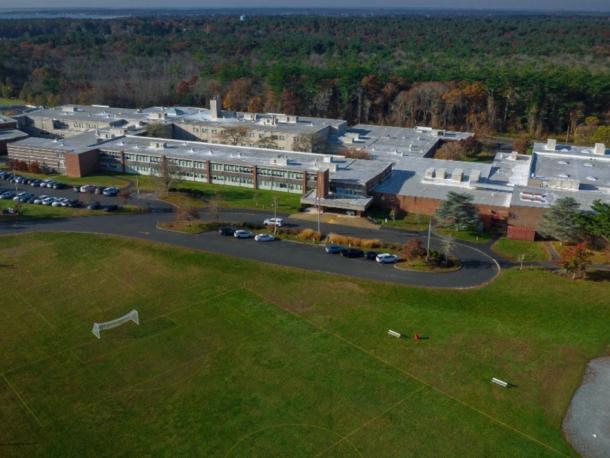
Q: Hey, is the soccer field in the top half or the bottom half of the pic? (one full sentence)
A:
The bottom half of the photo is where the soccer field is.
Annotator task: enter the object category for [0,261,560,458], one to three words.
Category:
soccer field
